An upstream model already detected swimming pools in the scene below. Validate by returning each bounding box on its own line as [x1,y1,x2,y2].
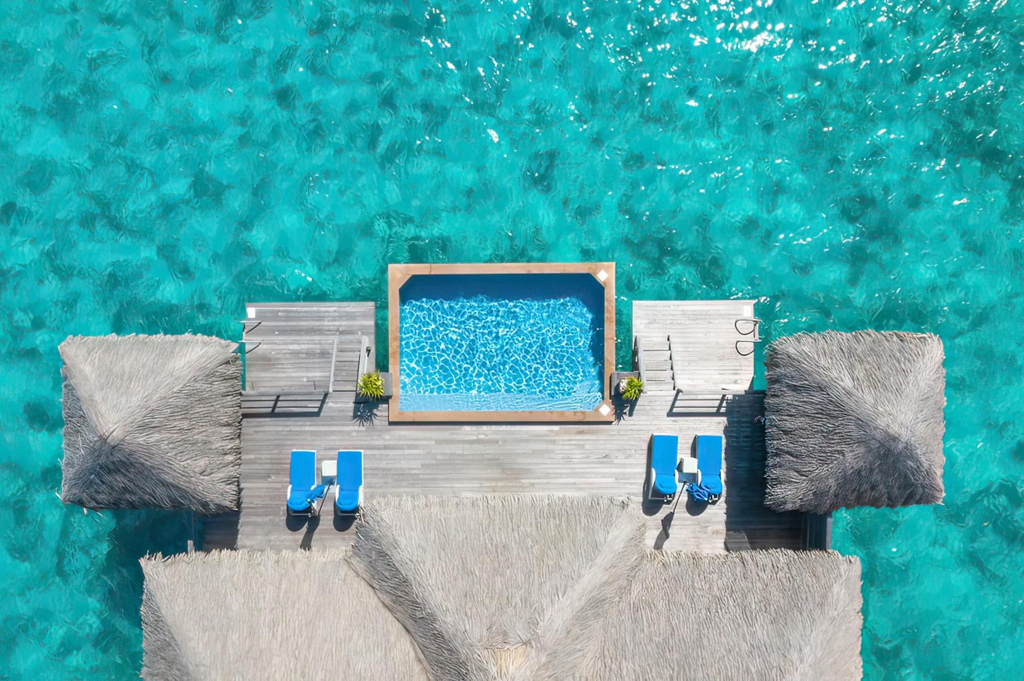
[388,263,615,421]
